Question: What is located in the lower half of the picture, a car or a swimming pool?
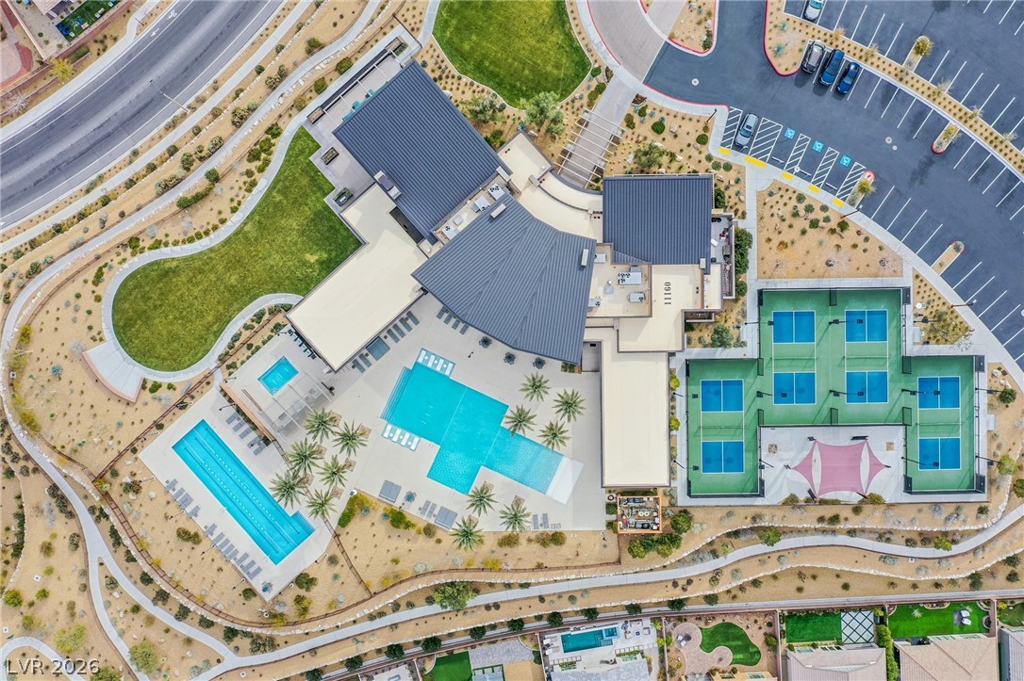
swimming pool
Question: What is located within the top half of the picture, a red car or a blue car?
blue car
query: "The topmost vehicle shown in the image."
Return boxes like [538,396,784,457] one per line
[804,0,824,21]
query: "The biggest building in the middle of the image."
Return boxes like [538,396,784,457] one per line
[286,60,724,488]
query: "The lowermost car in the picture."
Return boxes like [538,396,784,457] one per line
[735,110,759,146]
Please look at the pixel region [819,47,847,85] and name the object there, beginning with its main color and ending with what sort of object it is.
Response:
blue car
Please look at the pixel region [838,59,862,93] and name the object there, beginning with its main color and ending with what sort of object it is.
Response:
blue car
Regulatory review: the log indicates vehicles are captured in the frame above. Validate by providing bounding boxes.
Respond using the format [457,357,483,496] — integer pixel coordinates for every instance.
[838,59,862,93]
[802,37,826,72]
[804,0,824,21]
[735,110,759,146]
[819,47,847,85]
